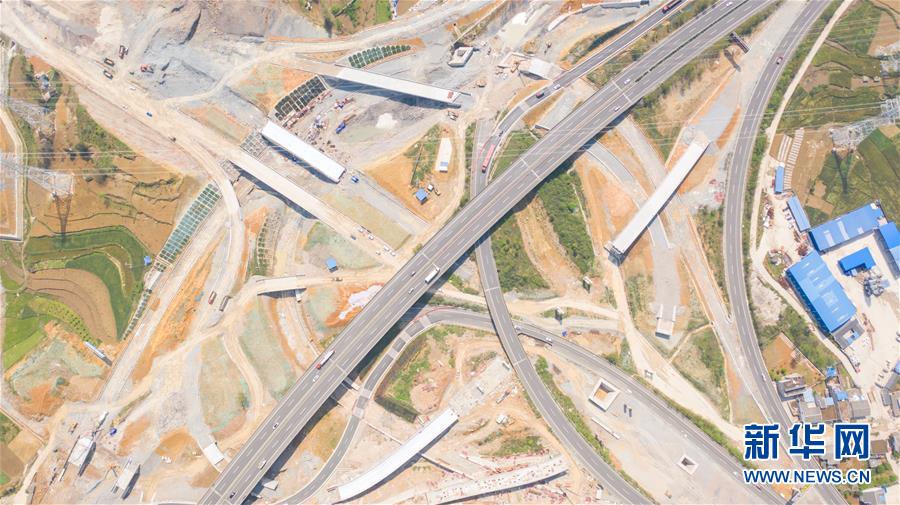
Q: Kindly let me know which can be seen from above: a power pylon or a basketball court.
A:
power pylon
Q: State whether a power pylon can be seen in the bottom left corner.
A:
No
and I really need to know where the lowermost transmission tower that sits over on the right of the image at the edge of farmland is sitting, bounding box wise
[831,101,900,149]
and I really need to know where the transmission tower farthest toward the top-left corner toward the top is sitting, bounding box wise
[0,78,56,126]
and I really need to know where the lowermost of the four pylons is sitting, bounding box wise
[0,150,74,194]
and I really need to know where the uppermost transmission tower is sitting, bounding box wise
[874,41,900,69]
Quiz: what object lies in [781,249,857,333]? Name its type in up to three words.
building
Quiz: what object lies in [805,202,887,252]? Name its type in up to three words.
building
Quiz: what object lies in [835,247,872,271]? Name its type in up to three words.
shed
